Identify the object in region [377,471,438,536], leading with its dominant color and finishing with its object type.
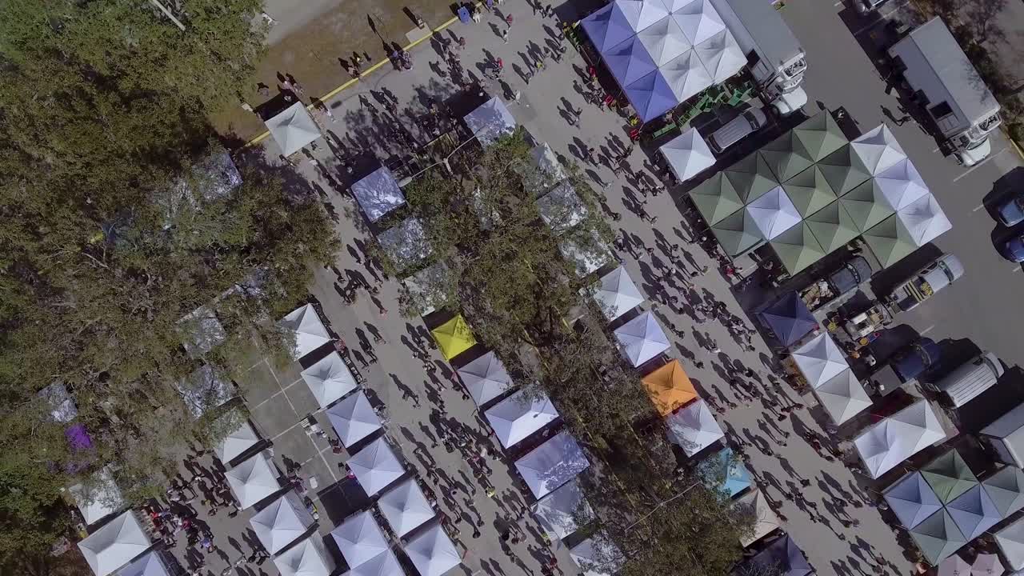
white tent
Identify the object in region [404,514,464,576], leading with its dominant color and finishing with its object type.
white tent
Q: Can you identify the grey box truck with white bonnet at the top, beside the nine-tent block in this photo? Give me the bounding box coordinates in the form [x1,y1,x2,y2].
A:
[714,0,813,118]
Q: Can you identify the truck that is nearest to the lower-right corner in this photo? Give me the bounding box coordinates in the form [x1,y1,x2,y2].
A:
[975,389,1024,460]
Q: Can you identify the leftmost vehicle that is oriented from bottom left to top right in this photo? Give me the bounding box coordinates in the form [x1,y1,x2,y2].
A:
[704,108,765,156]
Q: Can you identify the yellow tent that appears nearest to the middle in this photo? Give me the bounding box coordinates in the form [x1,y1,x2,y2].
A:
[431,313,477,359]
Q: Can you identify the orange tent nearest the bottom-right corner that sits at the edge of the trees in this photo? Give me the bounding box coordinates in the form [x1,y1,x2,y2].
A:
[640,358,698,416]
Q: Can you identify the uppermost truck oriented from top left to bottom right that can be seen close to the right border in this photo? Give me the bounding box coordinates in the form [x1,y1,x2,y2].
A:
[892,15,1002,167]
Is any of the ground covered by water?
No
